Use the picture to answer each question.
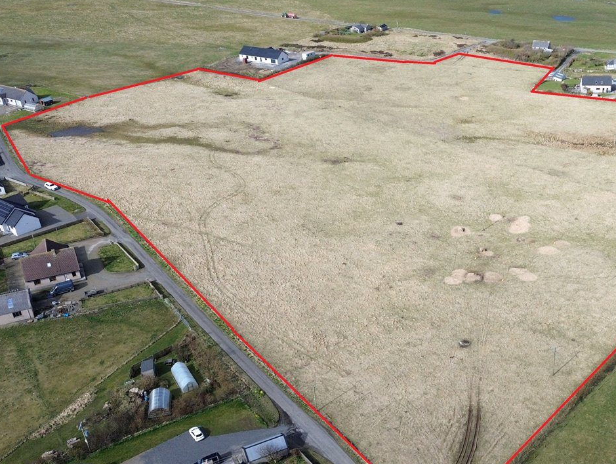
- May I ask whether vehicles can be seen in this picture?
Yes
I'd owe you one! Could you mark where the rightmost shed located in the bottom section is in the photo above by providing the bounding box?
[243,434,288,464]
